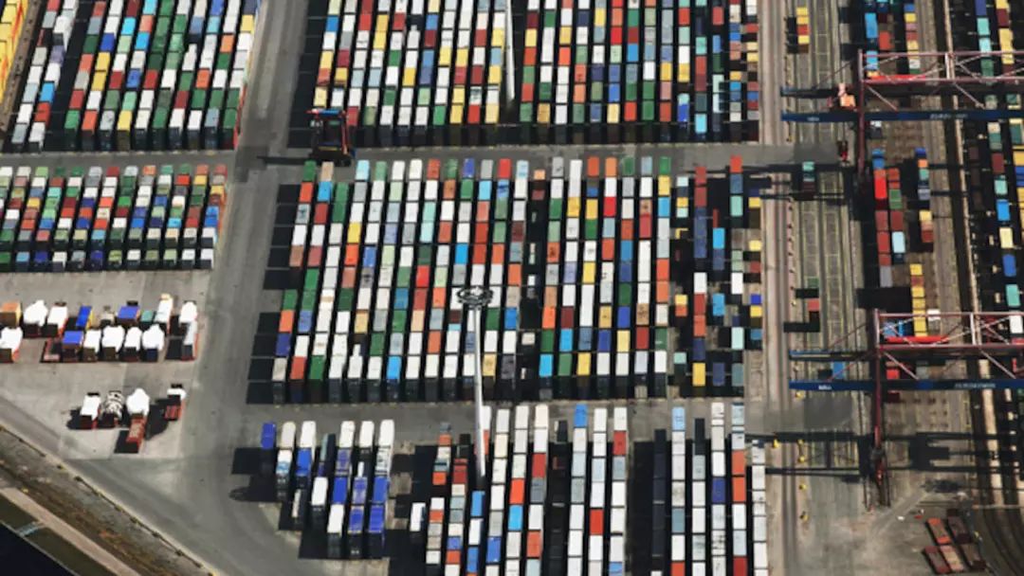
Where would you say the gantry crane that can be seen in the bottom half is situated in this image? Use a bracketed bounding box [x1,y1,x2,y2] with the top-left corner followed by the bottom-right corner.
[789,310,1024,494]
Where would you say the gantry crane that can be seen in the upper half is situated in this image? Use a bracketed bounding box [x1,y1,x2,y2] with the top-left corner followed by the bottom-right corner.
[782,50,1024,214]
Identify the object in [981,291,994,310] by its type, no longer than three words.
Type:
rail car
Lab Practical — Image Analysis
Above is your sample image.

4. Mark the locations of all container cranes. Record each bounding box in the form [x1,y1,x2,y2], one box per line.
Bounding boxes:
[789,310,1024,494]
[782,50,1024,214]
